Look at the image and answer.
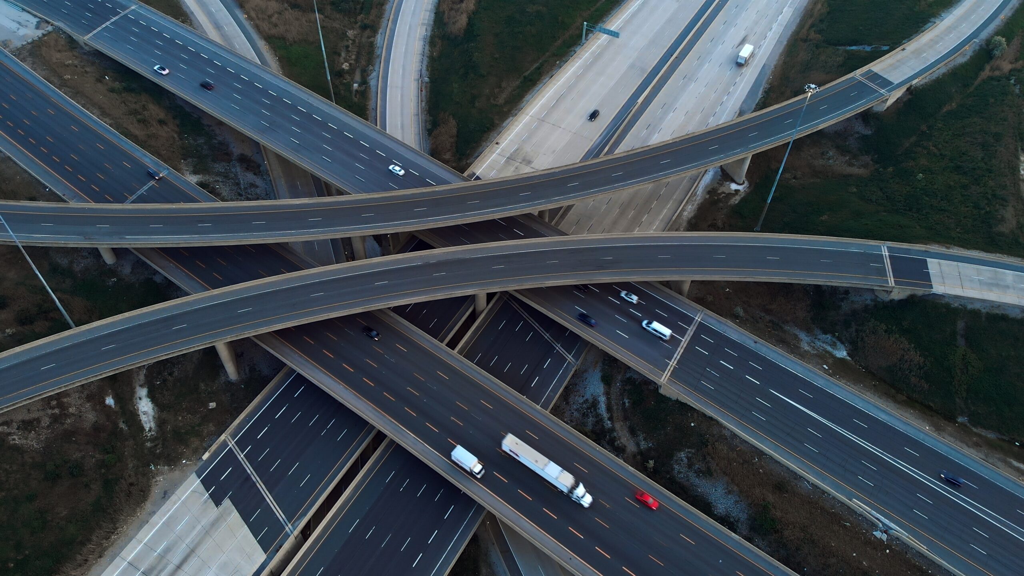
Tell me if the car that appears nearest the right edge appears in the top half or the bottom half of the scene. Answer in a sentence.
The car that appears nearest the right edge is in the bottom half of the image.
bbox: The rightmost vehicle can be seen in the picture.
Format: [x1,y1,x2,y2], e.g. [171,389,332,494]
[938,469,967,489]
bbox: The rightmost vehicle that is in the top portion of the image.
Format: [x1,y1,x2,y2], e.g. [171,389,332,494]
[735,45,752,66]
